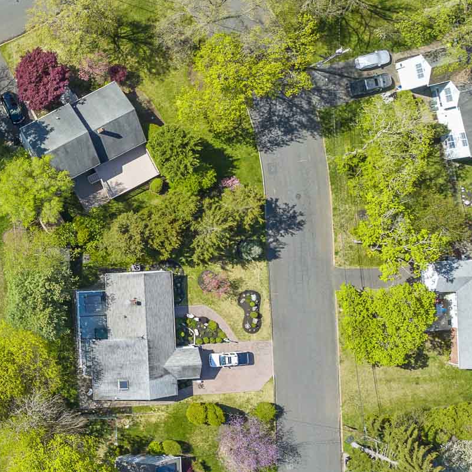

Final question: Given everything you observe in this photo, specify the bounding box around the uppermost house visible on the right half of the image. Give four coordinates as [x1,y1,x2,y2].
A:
[399,47,463,91]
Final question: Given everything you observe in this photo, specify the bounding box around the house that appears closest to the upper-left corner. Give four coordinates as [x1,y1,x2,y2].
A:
[16,81,147,190]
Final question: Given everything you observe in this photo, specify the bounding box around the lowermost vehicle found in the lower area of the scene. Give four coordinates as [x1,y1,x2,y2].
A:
[208,351,255,369]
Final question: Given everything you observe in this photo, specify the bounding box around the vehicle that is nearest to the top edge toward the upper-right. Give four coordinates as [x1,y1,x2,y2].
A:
[353,50,392,71]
